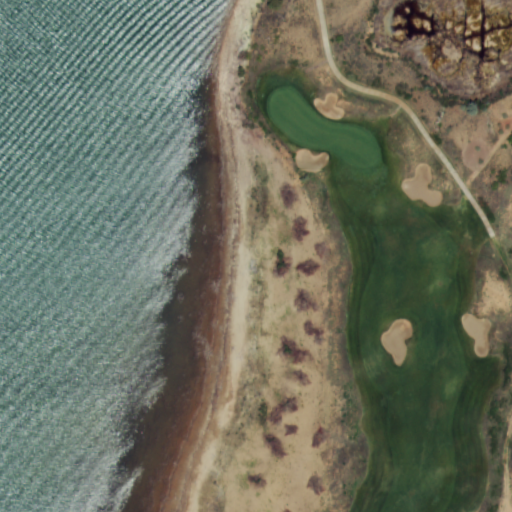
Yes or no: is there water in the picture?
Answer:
Yes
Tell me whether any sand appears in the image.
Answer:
Yes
